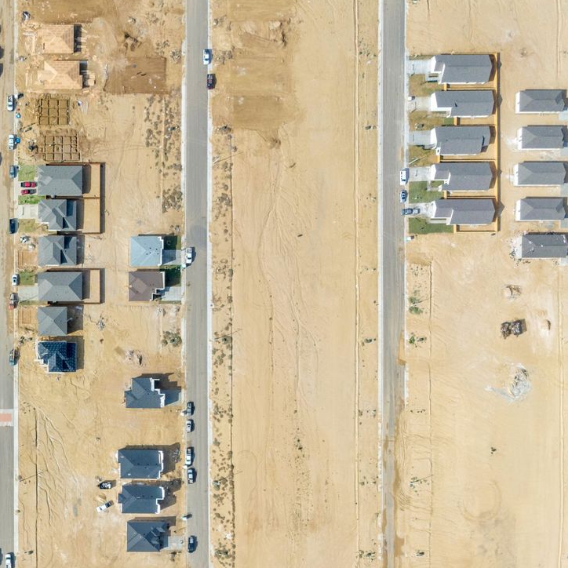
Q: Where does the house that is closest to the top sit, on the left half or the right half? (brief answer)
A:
left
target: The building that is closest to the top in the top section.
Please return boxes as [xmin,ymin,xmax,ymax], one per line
[39,24,75,54]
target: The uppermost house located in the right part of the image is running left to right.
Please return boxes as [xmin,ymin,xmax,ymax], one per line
[429,54,496,84]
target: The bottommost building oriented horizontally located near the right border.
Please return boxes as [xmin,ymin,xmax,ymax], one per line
[517,233,568,258]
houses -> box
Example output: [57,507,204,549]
[130,236,164,267]
[38,60,83,90]
[33,340,77,374]
[126,521,168,551]
[429,54,496,84]
[430,126,493,154]
[430,199,498,224]
[514,161,568,185]
[517,125,568,149]
[516,90,568,112]
[118,448,163,479]
[37,306,67,335]
[38,199,77,231]
[517,233,568,258]
[430,90,498,117]
[39,24,75,54]
[38,236,77,264]
[38,166,83,195]
[431,162,496,190]
[118,484,164,514]
[38,271,83,301]
[125,376,164,407]
[516,198,568,220]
